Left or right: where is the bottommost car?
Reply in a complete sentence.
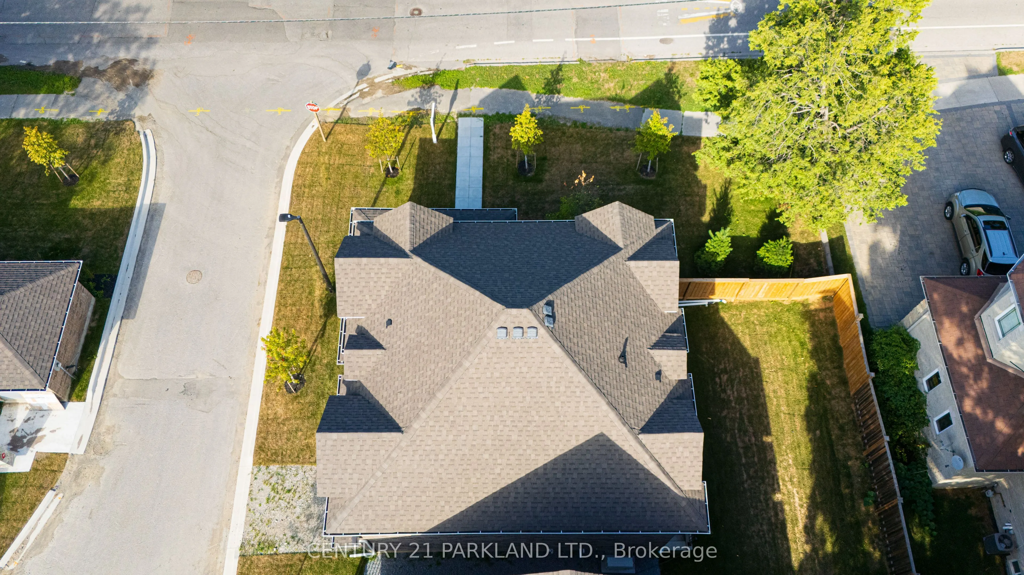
The bottommost car sits on the right side.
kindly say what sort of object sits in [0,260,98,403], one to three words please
building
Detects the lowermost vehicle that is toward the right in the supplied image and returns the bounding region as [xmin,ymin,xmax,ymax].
[944,192,1018,275]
